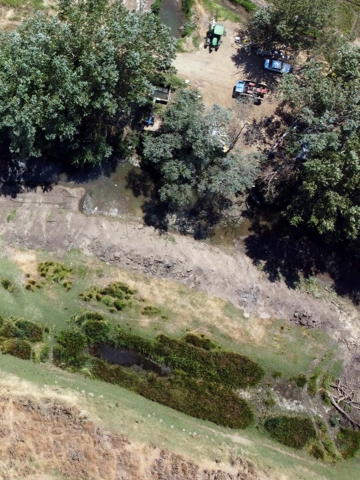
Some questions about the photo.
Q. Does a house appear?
No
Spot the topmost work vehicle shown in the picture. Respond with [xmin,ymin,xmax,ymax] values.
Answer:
[204,24,224,52]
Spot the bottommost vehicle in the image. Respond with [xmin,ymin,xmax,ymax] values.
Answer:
[243,81,272,99]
